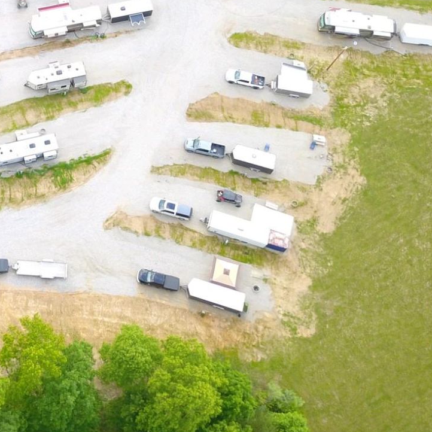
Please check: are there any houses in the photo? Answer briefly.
No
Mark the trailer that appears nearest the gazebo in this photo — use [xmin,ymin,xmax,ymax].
[180,278,246,313]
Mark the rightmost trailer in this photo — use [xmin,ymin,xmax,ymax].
[392,25,432,46]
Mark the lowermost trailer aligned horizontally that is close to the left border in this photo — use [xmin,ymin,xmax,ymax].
[11,258,66,279]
